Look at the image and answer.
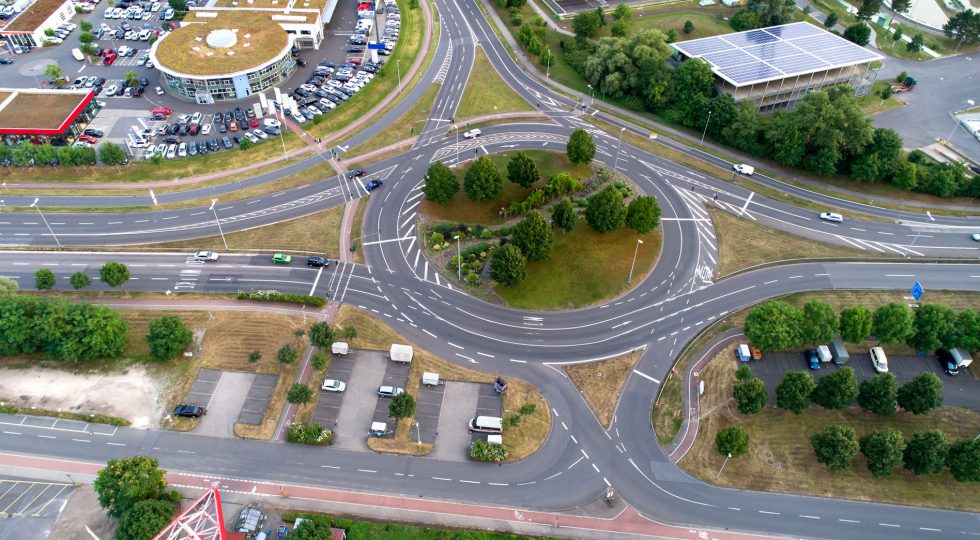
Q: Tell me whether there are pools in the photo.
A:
No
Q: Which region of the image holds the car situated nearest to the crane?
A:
bottom left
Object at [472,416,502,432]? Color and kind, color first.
white vehicle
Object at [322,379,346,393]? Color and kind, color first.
white vehicle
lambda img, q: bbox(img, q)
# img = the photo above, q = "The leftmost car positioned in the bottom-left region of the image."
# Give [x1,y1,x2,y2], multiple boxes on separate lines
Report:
[175,404,204,418]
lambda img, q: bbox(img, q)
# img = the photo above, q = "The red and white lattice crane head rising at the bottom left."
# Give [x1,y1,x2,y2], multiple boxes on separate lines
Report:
[151,483,233,540]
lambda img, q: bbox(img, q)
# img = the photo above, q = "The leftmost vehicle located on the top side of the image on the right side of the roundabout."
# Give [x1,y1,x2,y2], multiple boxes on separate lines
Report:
[731,162,754,175]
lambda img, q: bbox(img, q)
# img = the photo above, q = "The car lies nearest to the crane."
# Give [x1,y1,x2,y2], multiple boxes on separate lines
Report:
[231,501,252,531]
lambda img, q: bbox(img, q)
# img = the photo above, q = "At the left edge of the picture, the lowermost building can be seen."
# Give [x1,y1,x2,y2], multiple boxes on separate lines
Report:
[0,90,98,148]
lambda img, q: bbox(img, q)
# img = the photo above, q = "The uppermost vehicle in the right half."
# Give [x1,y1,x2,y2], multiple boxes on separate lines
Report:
[894,79,918,94]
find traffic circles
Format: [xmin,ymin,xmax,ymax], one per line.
[362,124,719,358]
